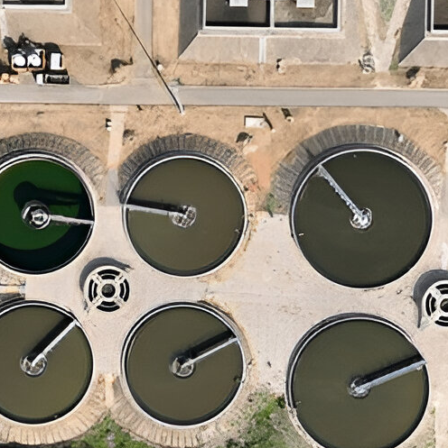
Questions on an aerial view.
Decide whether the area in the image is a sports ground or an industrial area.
industrial area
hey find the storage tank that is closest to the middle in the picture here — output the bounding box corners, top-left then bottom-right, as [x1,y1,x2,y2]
[116,132,268,284]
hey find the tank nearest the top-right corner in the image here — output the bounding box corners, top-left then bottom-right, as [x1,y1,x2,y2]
[272,127,443,295]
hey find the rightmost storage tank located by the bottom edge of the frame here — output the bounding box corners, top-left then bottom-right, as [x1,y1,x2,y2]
[272,311,433,448]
